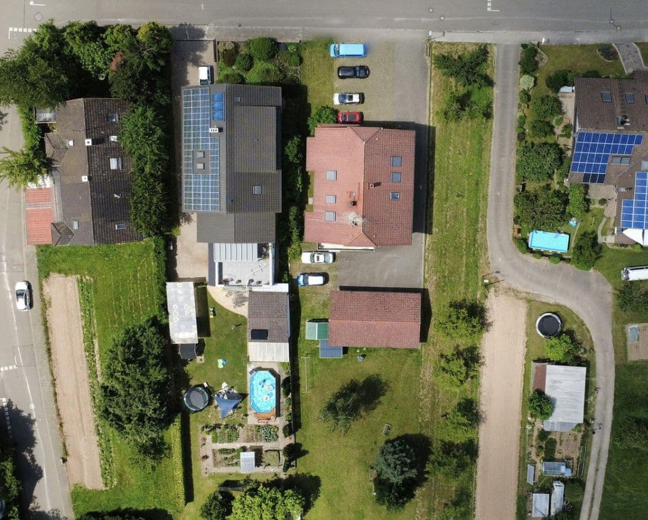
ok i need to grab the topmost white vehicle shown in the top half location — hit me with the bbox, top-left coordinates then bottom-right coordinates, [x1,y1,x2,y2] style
[197,60,212,84]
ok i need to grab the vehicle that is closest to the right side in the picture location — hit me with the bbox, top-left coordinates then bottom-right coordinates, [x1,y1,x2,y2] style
[620,264,648,282]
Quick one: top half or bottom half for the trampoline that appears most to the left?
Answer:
bottom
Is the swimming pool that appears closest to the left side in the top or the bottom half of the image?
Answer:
bottom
